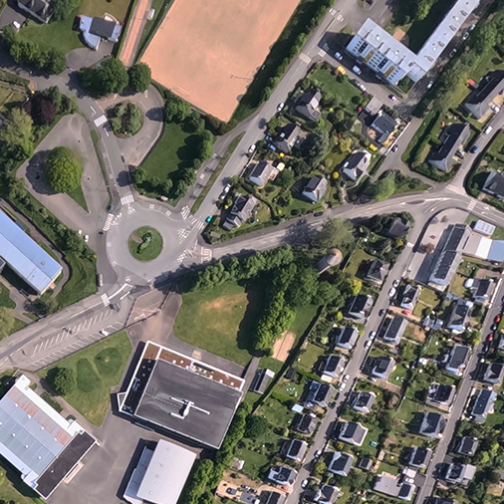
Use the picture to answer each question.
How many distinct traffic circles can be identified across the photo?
1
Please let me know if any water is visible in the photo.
No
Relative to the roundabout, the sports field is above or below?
above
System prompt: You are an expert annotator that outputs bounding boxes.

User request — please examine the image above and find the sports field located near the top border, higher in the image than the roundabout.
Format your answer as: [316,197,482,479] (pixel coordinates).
[136,0,298,119]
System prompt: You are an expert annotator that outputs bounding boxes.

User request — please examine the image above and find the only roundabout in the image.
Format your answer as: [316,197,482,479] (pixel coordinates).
[106,200,195,290]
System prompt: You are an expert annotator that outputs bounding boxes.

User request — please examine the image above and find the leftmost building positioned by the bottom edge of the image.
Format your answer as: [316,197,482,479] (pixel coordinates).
[0,374,96,499]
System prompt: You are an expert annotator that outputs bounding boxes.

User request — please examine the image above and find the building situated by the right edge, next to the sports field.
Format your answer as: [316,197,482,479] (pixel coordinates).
[352,0,479,93]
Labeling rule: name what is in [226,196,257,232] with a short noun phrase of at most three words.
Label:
house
